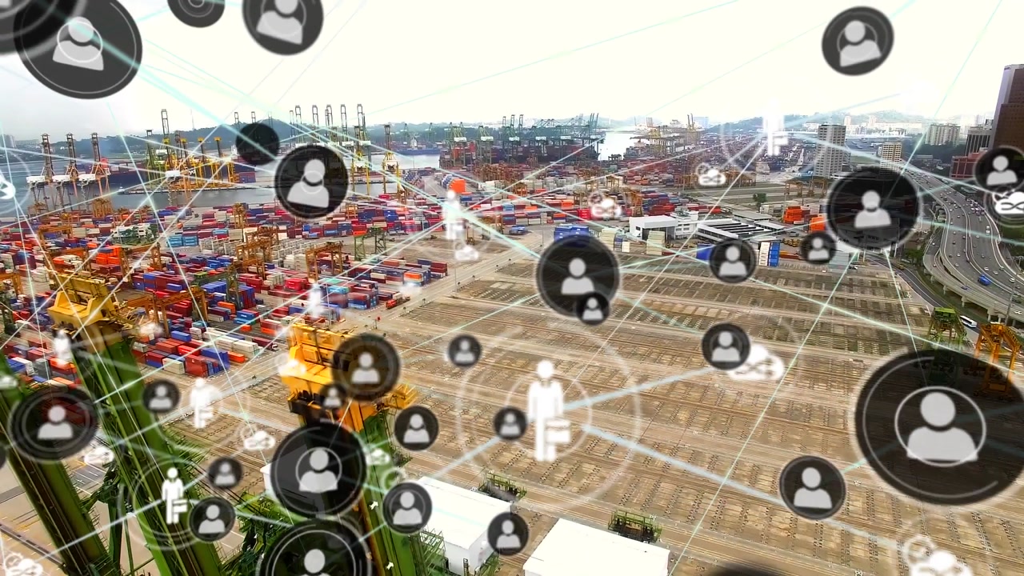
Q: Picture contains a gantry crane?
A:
Yes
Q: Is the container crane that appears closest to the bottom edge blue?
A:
No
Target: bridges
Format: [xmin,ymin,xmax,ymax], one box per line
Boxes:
[854,145,1024,309]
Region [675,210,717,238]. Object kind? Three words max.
building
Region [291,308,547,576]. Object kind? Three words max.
container crane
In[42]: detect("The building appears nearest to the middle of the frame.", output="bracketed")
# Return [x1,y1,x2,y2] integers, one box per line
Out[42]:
[630,220,685,242]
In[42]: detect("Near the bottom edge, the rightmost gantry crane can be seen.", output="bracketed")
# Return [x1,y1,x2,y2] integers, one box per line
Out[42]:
[528,499,679,576]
